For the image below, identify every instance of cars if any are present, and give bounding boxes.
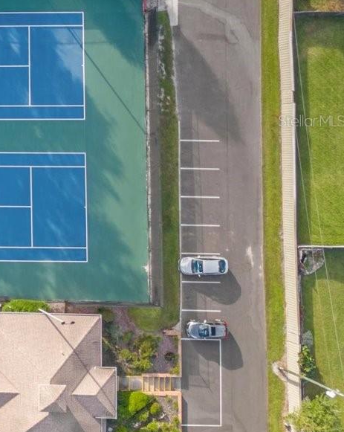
[187,319,232,343]
[181,254,231,278]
